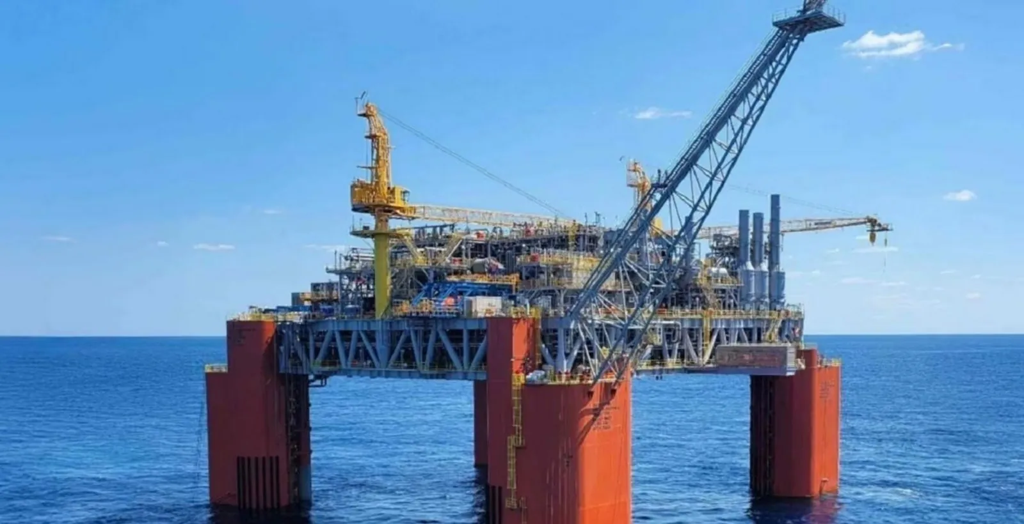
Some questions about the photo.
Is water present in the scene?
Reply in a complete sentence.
Yes, there's water in this view.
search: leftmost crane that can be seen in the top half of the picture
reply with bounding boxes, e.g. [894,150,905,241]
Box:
[345,86,587,319]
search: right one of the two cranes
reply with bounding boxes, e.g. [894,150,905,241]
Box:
[623,147,896,272]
